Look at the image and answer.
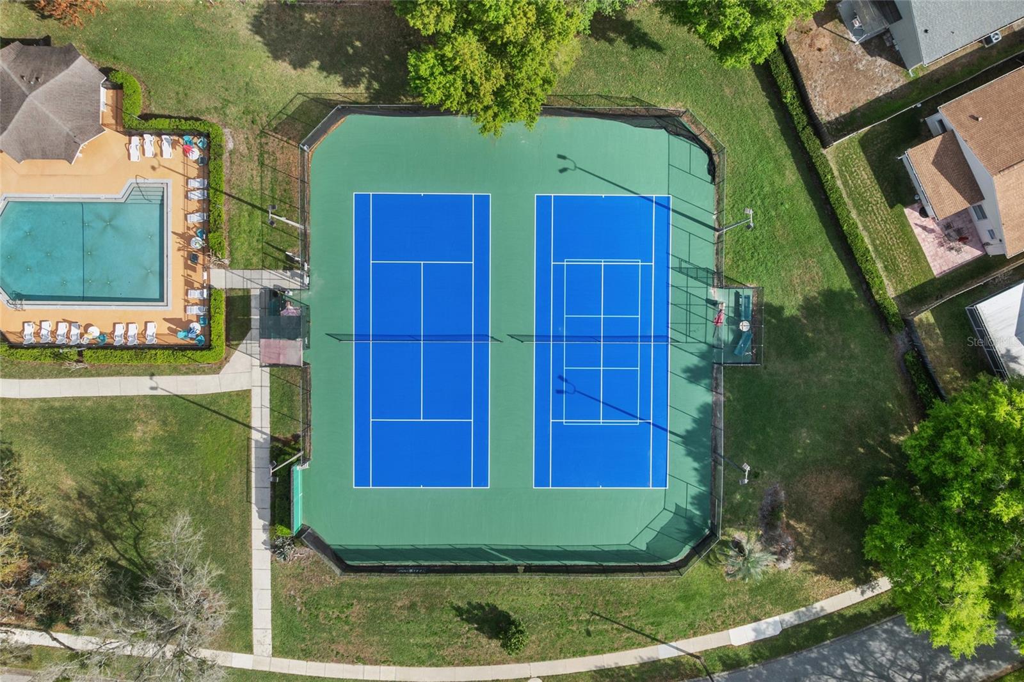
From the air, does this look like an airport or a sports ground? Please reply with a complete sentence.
The area seen from above is a sports ground.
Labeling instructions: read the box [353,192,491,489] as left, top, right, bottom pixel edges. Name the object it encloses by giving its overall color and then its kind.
blue tennis court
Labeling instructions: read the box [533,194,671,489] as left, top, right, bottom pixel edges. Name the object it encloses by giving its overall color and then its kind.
blue tennis court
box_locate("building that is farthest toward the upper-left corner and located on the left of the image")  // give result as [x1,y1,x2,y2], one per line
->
[0,42,109,164]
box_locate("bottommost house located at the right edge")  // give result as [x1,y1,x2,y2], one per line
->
[966,280,1024,402]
